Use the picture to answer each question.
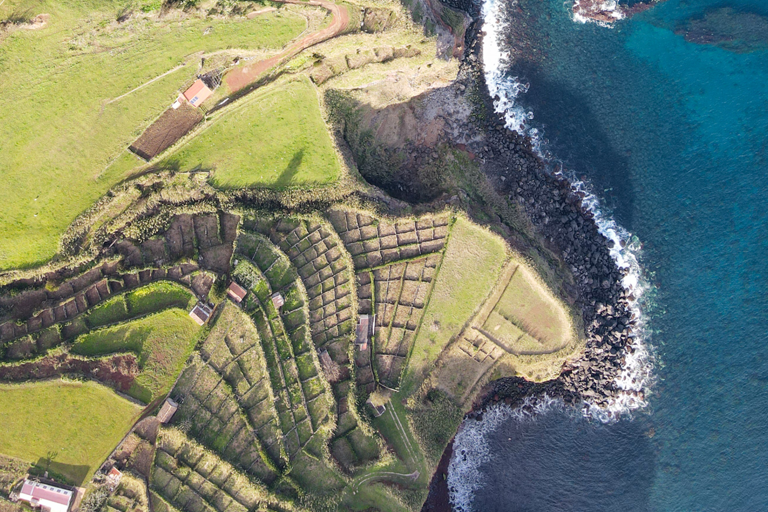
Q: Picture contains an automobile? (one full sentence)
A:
No, there is no automobile in the image.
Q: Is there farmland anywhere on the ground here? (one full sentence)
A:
Yes, farmland can be seen from above here.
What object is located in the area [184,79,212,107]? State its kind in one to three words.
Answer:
house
